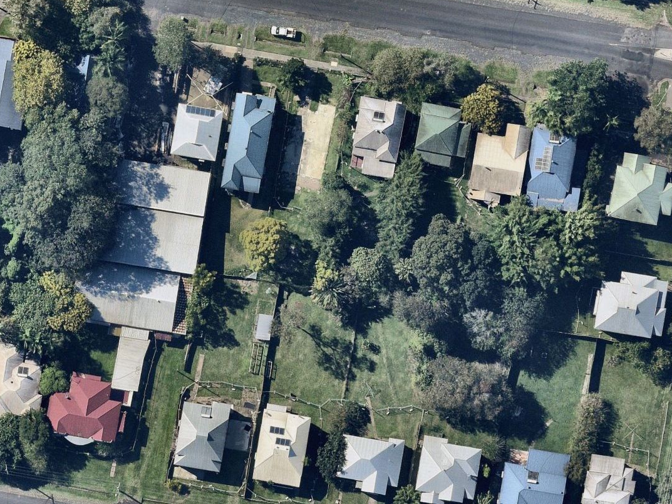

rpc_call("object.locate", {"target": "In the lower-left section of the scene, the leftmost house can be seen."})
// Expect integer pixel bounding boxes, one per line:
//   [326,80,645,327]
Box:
[0,343,42,416]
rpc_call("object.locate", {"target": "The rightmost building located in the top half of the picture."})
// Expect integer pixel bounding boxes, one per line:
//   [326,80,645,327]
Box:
[606,153,672,226]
